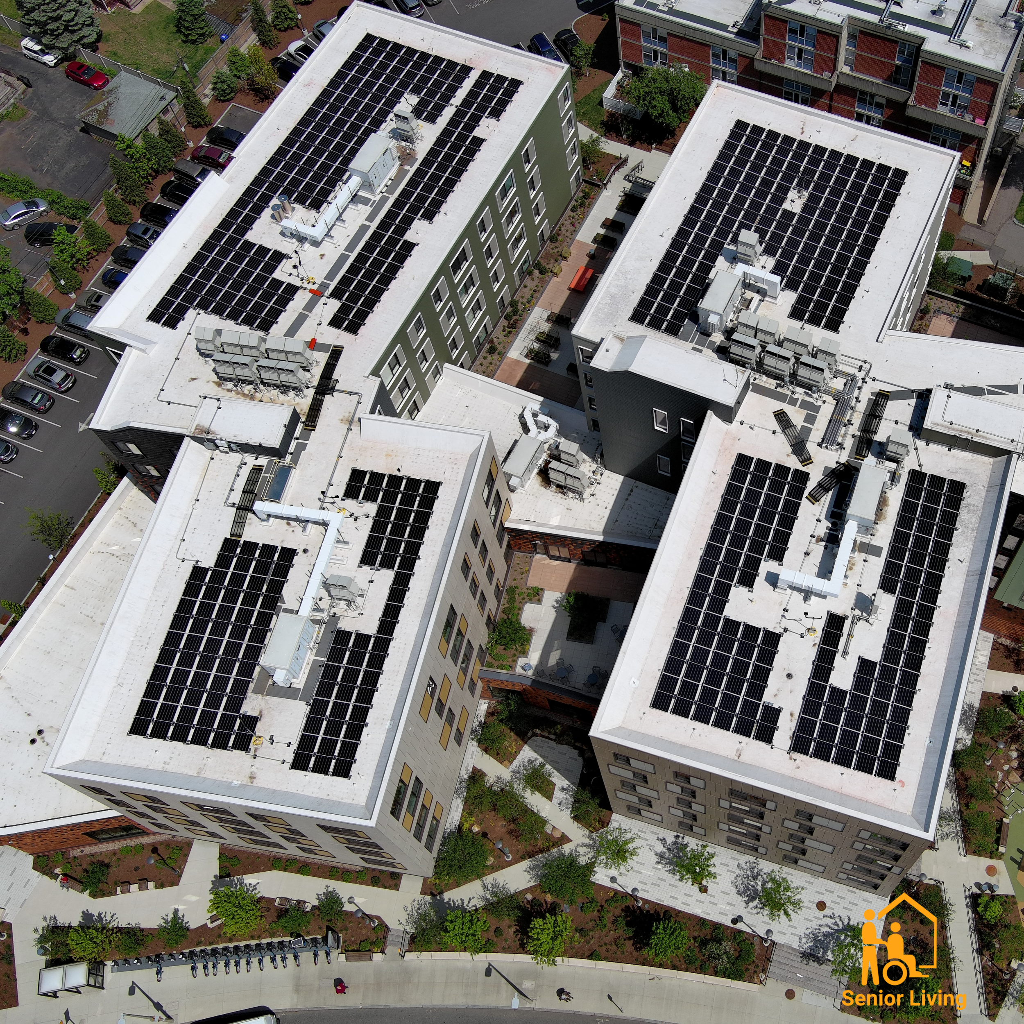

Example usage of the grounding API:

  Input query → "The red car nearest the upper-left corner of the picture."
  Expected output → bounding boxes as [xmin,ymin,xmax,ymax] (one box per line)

[61,63,110,94]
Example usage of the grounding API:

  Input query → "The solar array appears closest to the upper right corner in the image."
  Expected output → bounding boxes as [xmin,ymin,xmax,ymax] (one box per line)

[629,119,911,338]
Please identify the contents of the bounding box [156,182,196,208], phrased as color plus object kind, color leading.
black car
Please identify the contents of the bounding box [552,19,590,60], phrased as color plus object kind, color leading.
black car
